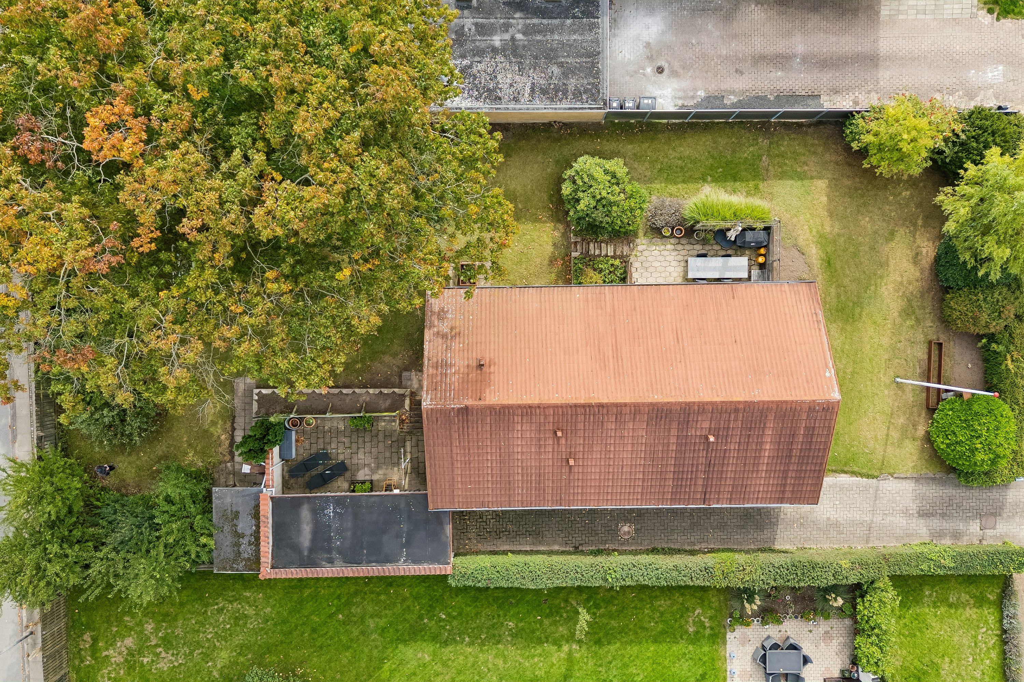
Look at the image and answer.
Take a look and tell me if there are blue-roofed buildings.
No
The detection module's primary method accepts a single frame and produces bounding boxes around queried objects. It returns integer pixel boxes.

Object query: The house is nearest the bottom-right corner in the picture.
[421,279,842,513]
